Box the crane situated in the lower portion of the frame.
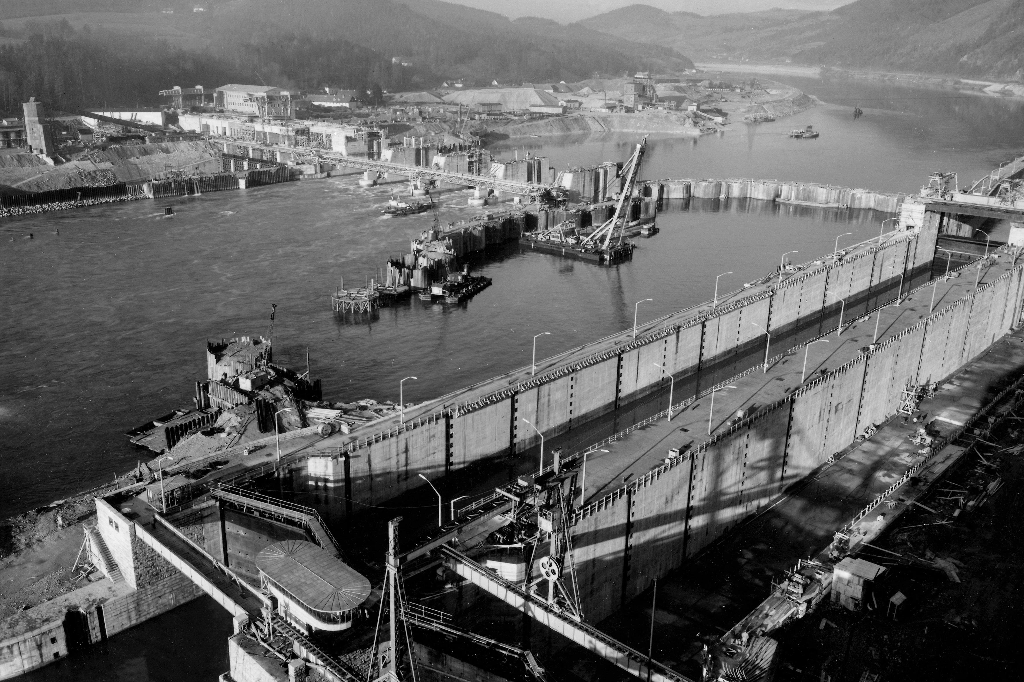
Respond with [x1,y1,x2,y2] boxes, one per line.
[361,442,614,682]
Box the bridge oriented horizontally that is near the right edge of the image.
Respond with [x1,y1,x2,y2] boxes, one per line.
[925,202,1024,222]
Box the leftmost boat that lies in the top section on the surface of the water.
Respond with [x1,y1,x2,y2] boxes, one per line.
[383,188,448,214]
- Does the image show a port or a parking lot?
port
